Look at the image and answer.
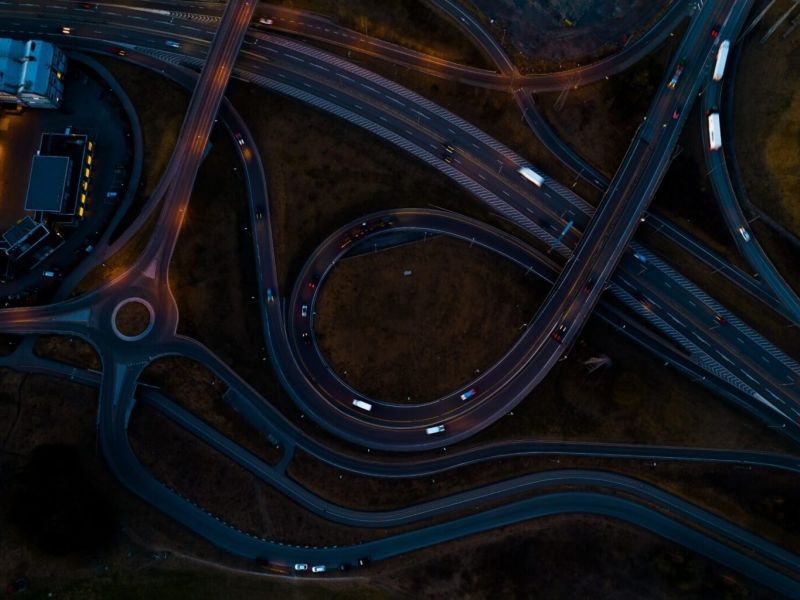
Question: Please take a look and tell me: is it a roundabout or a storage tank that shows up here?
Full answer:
It is a roundabout that can be seen here.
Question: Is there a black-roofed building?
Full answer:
Yes, there's a black-roofed building here.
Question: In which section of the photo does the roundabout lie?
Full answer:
Look in the left portion of the view to spot the roundabout.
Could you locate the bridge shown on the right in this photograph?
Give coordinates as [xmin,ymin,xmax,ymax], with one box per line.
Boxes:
[529,75,676,377]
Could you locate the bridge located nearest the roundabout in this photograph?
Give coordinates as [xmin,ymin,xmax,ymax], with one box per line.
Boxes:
[174,0,260,157]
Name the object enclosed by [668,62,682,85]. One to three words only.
vehicle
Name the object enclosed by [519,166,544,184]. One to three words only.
vehicle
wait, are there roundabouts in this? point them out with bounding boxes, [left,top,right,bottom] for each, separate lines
[49,233,201,425]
